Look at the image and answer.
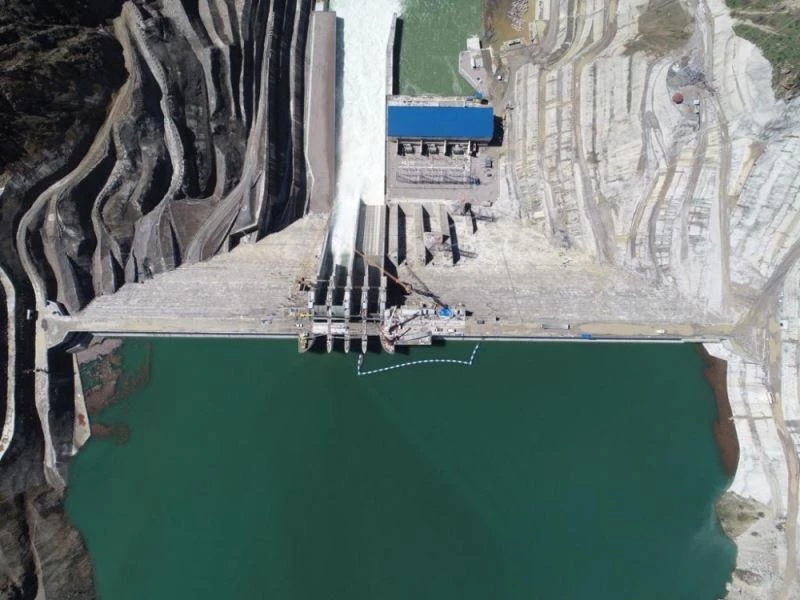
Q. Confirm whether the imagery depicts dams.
Yes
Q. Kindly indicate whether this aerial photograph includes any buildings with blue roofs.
Yes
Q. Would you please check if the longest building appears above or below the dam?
above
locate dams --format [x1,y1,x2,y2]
[67,205,741,354]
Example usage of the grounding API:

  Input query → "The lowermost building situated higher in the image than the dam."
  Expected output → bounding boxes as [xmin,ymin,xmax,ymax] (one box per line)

[388,97,494,157]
